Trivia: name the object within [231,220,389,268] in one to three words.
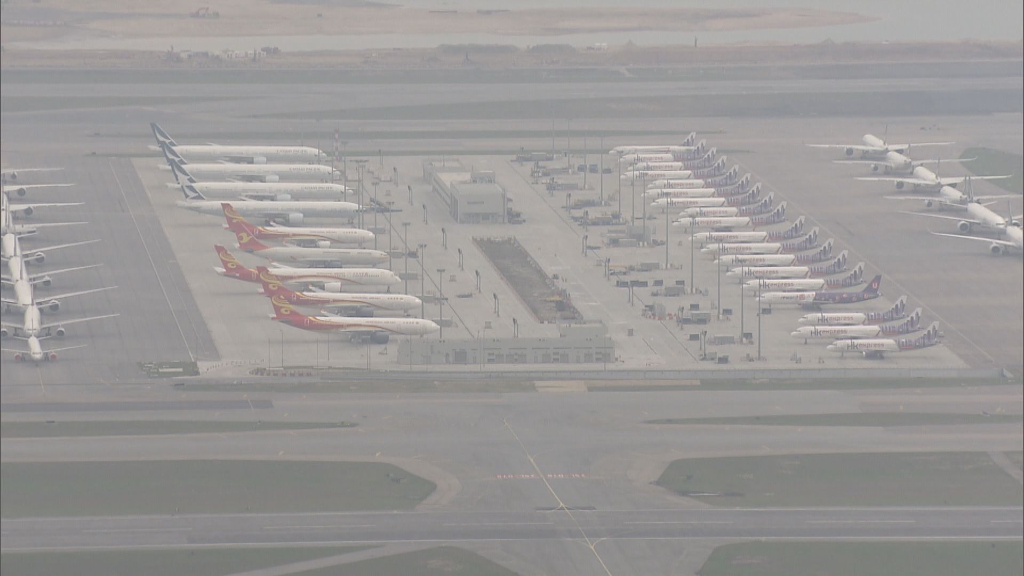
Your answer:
airplane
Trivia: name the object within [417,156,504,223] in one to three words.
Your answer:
building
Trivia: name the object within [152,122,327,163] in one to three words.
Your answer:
airplane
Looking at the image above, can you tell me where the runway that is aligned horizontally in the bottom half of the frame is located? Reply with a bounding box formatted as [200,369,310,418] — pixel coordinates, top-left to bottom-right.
[0,506,1024,547]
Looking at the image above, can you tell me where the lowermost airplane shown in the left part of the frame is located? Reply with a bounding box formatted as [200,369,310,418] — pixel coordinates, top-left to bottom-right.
[0,326,86,365]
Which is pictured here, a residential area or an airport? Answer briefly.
airport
